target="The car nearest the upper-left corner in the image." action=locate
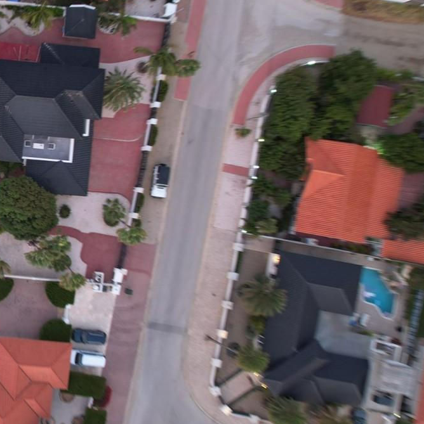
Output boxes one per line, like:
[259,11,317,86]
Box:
[151,163,170,198]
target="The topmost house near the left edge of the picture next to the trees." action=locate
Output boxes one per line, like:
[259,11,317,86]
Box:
[0,39,105,197]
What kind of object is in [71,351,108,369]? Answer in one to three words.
car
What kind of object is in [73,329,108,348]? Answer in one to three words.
car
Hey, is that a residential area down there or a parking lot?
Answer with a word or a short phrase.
residential area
